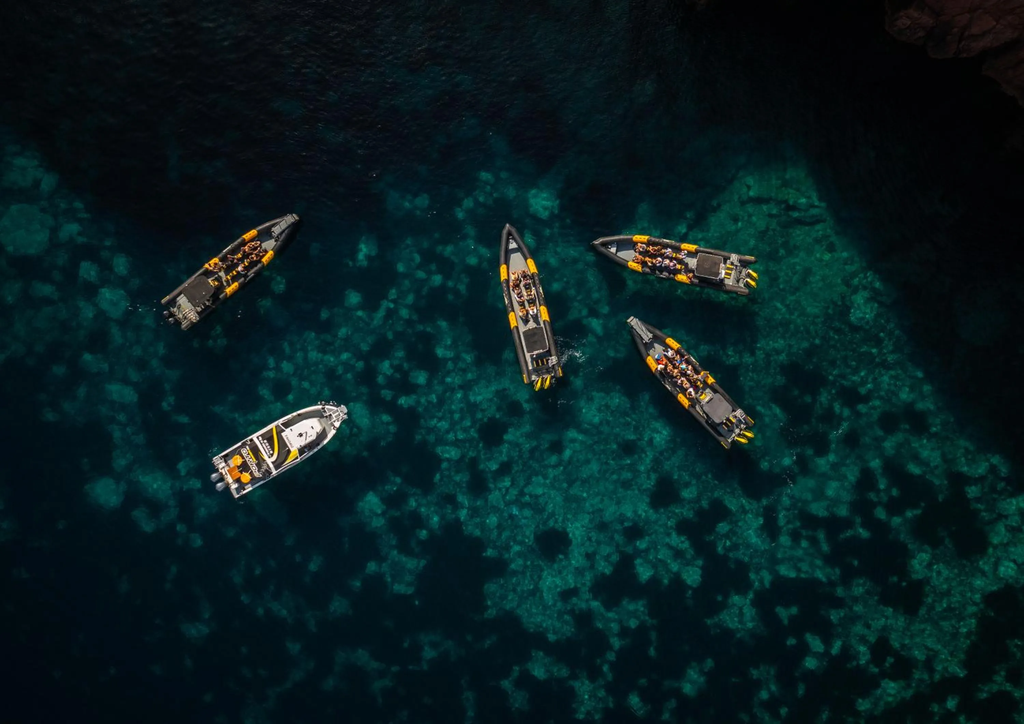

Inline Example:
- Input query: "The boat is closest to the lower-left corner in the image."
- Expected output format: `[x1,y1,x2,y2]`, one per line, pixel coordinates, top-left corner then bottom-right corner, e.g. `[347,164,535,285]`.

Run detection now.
[212,401,350,497]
